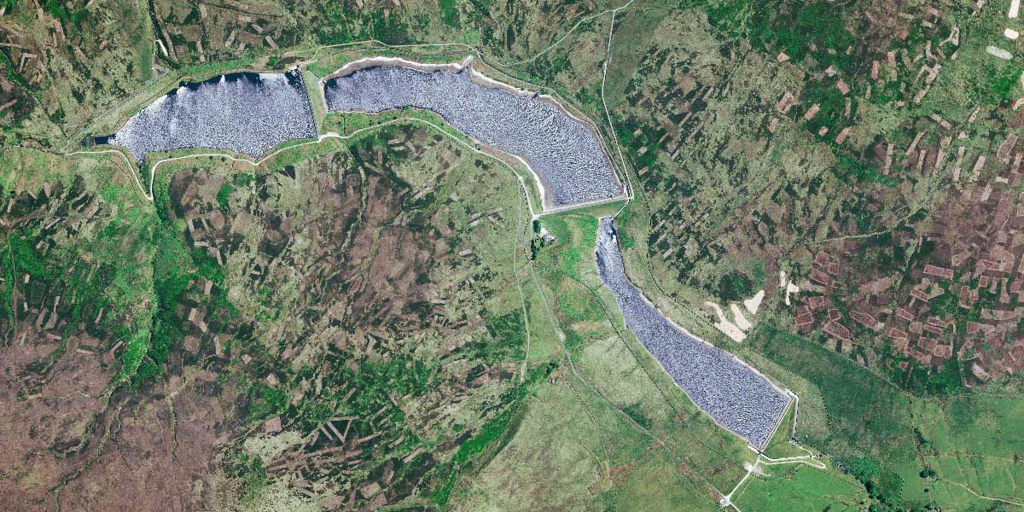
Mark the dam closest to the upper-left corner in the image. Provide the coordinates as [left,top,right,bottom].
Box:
[299,70,331,138]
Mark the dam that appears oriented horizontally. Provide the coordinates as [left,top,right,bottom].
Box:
[542,195,630,225]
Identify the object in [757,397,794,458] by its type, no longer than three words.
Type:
dam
